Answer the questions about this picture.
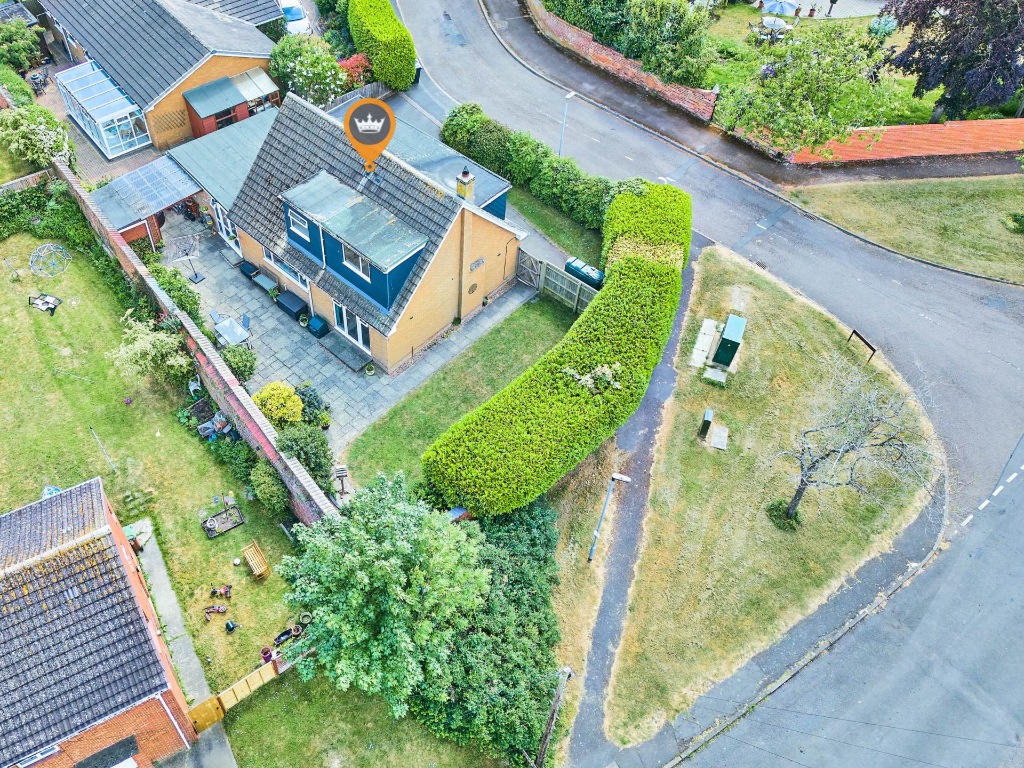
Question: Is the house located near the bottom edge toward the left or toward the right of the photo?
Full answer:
The house located near the bottom edge is on the left side of the image.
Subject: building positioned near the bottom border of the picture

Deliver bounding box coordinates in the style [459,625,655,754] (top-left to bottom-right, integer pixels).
[0,470,196,768]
